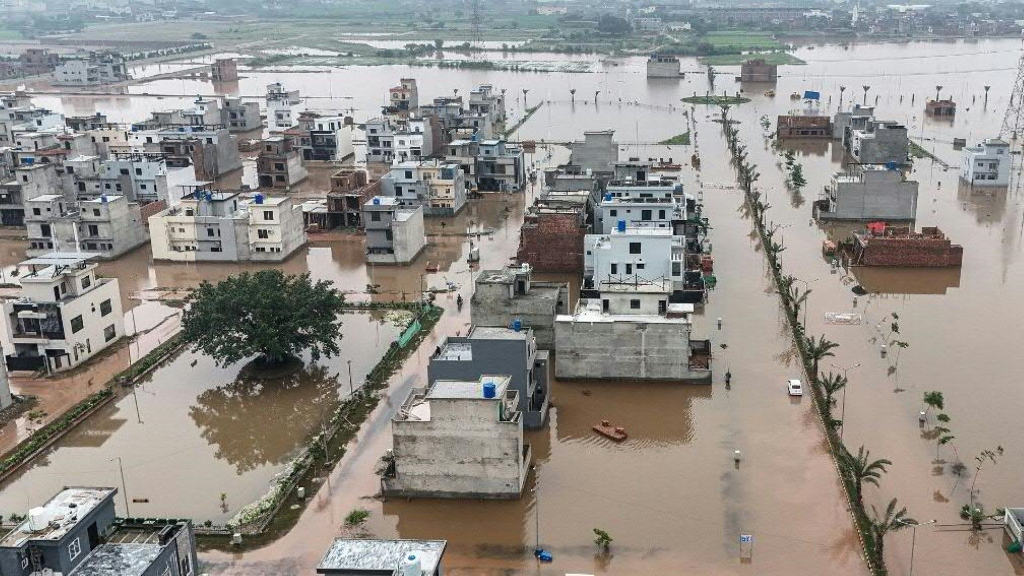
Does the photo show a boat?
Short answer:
No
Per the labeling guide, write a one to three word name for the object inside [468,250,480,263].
vehicle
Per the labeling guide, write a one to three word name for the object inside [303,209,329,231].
shed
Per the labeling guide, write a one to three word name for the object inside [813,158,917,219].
house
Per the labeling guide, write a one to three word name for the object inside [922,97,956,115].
house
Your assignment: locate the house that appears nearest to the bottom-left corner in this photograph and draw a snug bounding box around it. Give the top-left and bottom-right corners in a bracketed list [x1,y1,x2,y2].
[0,483,189,576]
